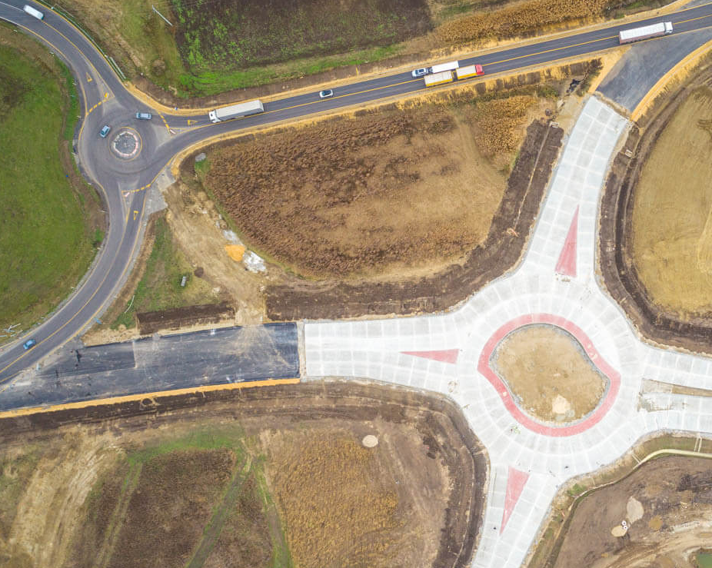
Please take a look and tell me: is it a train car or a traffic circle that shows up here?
traffic circle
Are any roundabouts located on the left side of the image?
Yes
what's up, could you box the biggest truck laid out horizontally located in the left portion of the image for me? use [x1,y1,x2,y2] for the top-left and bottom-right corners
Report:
[212,98,268,123]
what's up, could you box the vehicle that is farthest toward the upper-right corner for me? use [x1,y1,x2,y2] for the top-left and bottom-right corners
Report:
[618,25,673,46]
